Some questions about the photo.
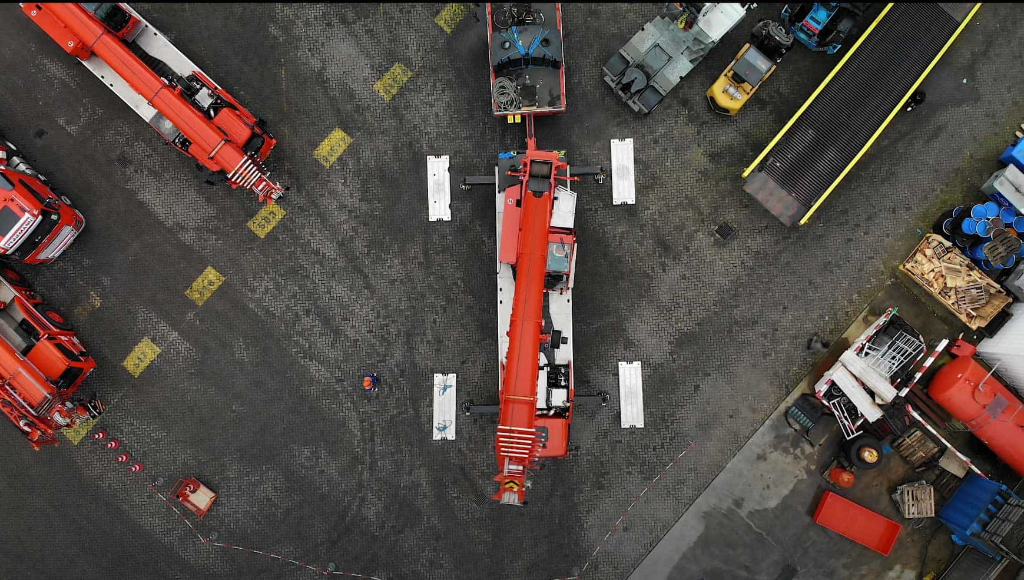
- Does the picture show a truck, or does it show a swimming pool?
truck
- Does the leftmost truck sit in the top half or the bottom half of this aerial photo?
top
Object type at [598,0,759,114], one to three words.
truck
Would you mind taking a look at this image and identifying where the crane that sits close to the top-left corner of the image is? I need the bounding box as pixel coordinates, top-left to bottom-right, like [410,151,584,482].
[16,0,291,207]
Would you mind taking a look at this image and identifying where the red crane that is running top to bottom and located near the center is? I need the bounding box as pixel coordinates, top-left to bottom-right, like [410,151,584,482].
[459,150,610,507]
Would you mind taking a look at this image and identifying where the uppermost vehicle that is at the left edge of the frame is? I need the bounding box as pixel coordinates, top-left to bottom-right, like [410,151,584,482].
[0,140,90,265]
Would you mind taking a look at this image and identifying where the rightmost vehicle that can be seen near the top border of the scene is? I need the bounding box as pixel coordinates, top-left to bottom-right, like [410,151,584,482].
[777,0,871,59]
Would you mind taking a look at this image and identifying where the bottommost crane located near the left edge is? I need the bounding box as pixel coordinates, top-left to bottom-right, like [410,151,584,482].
[0,264,112,451]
